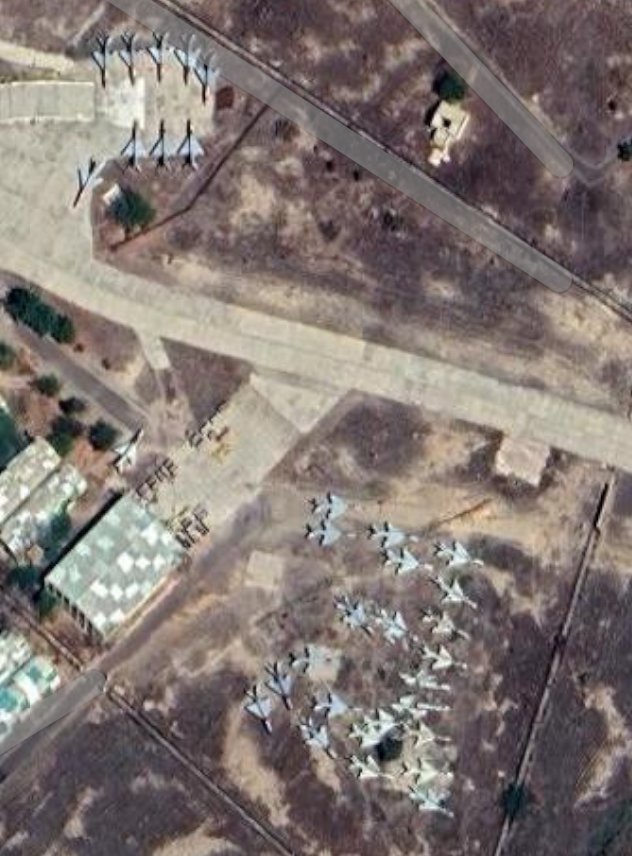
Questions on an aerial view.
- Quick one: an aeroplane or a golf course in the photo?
aeroplane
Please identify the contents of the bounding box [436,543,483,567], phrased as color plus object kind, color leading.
white airplane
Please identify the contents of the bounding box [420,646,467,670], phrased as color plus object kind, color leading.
white airplane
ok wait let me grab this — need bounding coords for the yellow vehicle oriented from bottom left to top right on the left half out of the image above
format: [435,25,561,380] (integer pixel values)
[207,443,228,461]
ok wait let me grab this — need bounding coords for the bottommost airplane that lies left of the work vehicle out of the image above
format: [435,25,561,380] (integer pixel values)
[110,429,143,470]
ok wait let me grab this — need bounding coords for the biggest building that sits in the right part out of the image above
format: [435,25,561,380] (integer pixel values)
[431,100,467,150]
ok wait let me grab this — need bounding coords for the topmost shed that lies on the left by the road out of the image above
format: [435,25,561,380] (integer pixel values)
[216,87,234,110]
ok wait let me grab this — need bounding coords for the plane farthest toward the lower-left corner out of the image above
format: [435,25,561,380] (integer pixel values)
[247,689,273,735]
